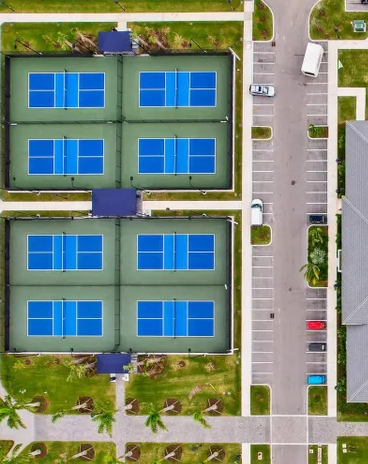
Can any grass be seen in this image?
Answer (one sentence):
Yes, there's grass in this view.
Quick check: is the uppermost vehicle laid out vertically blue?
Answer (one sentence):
No, the color of the uppermost vehicle laid out vertically is white.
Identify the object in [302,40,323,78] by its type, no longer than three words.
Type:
vehicle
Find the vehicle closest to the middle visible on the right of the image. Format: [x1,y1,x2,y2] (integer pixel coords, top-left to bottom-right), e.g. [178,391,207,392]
[249,198,264,227]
